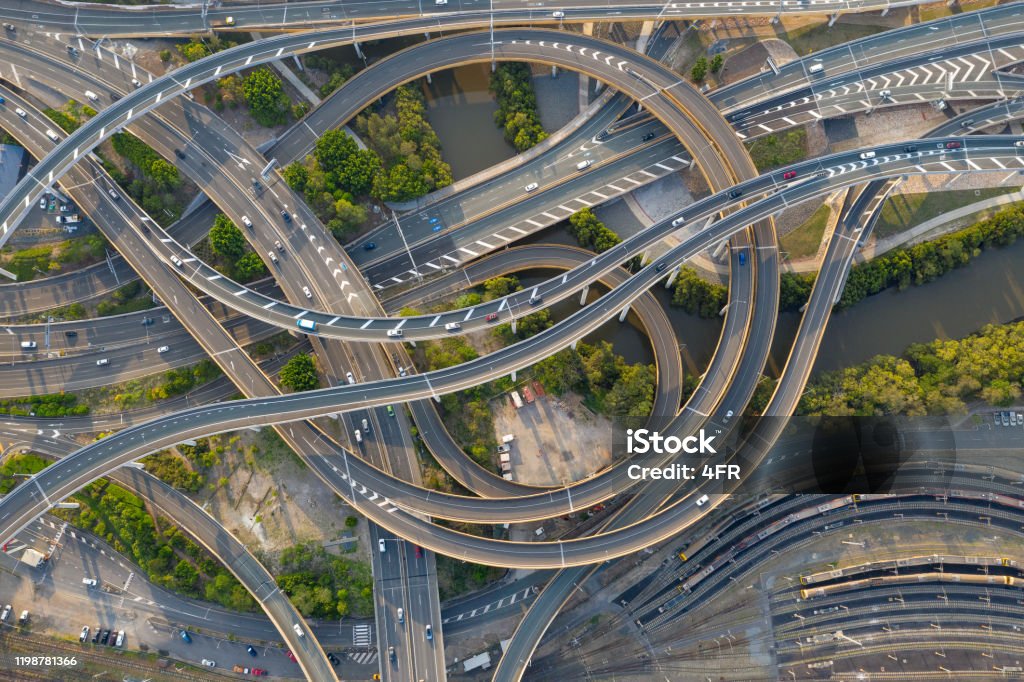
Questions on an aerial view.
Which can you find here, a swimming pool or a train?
train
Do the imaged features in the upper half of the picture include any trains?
No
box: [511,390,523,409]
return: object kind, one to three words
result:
vehicle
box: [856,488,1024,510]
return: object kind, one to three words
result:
train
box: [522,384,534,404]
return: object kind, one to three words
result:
vehicle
